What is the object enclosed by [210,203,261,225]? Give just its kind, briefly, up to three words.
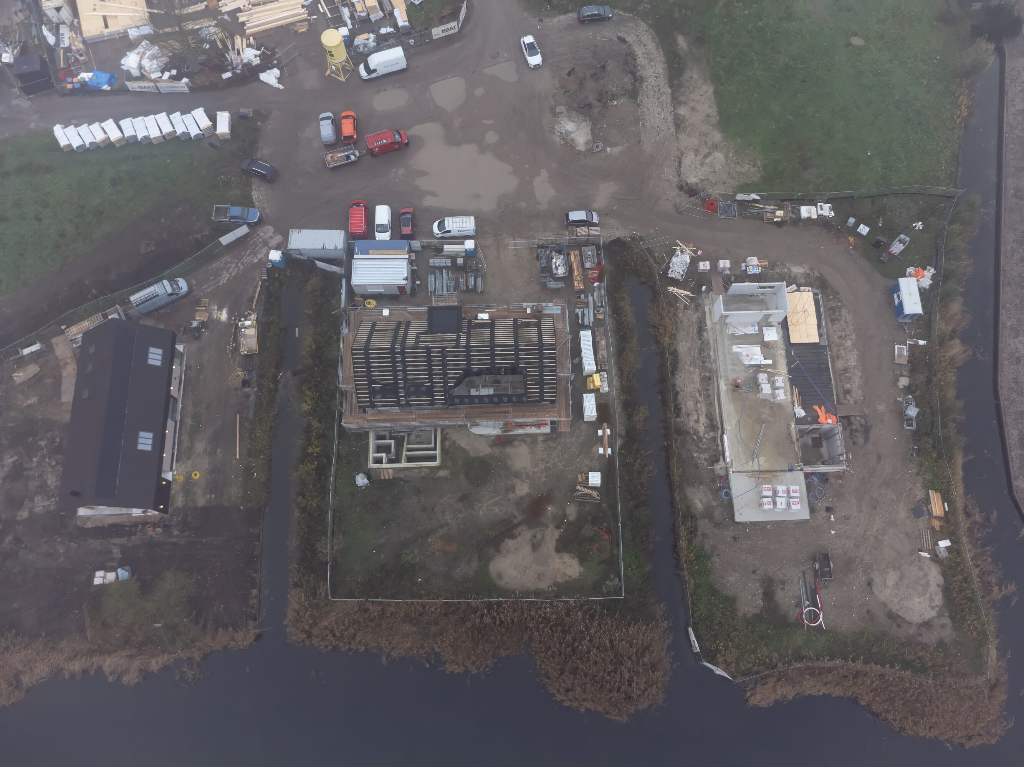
truck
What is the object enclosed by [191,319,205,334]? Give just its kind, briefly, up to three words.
vehicle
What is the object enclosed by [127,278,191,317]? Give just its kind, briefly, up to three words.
van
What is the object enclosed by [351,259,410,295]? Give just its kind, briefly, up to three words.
building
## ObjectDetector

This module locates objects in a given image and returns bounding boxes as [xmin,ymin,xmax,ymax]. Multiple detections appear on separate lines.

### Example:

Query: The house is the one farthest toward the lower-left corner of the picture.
[49,320,191,529]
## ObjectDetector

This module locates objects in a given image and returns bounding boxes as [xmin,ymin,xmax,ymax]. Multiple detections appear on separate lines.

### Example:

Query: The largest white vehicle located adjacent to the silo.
[357,47,407,82]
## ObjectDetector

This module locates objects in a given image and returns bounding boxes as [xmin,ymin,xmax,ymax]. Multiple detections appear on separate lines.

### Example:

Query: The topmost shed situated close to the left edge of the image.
[42,0,75,33]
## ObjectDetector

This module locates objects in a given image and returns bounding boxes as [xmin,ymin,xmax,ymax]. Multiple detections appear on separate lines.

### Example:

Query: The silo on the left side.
[319,20,355,80]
